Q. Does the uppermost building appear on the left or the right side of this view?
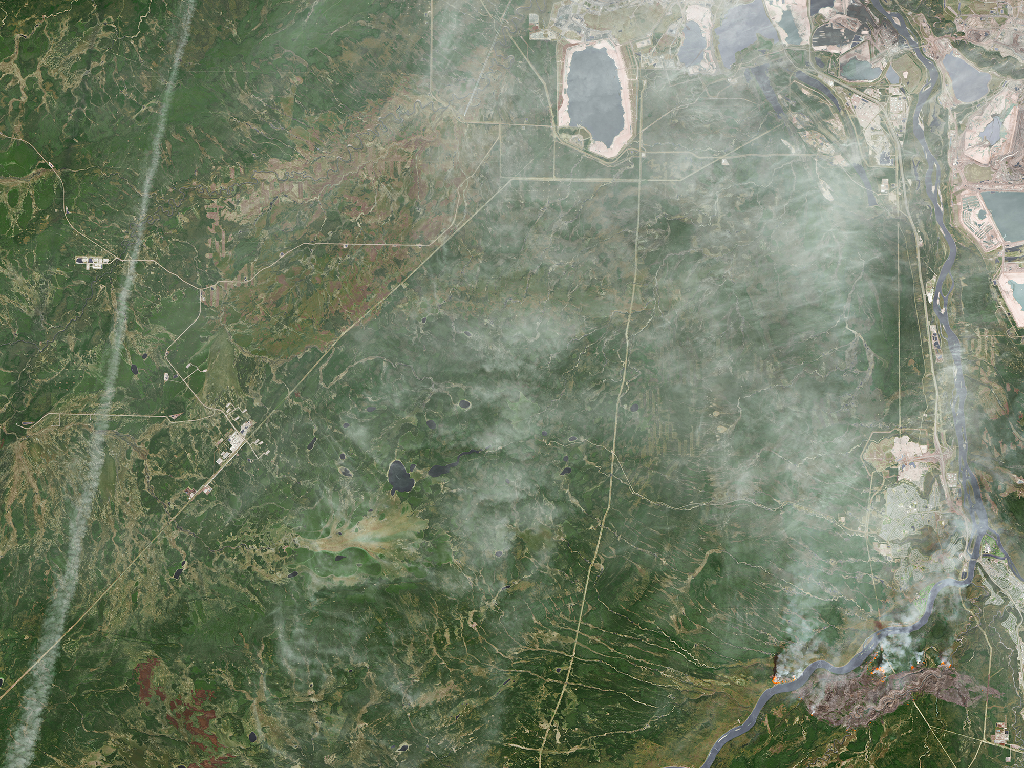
right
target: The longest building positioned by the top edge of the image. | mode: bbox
[812,6,878,46]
